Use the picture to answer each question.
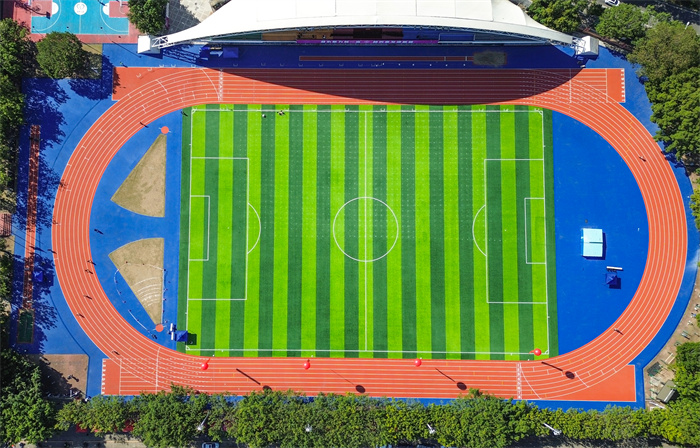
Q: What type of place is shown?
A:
sports ground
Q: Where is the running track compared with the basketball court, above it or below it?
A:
below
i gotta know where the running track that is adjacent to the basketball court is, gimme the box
[53,67,688,401]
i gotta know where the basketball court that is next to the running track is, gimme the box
[12,0,140,43]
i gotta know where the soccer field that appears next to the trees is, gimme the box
[176,103,558,360]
